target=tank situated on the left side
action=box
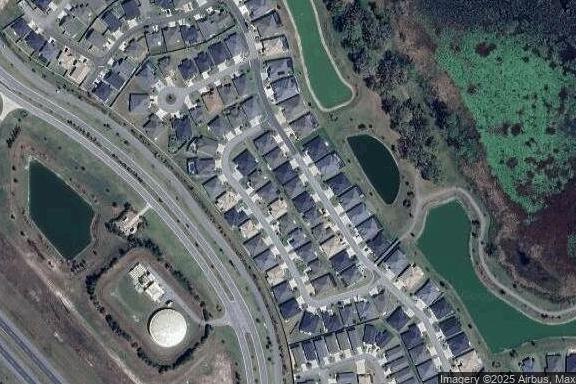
[149,309,187,347]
